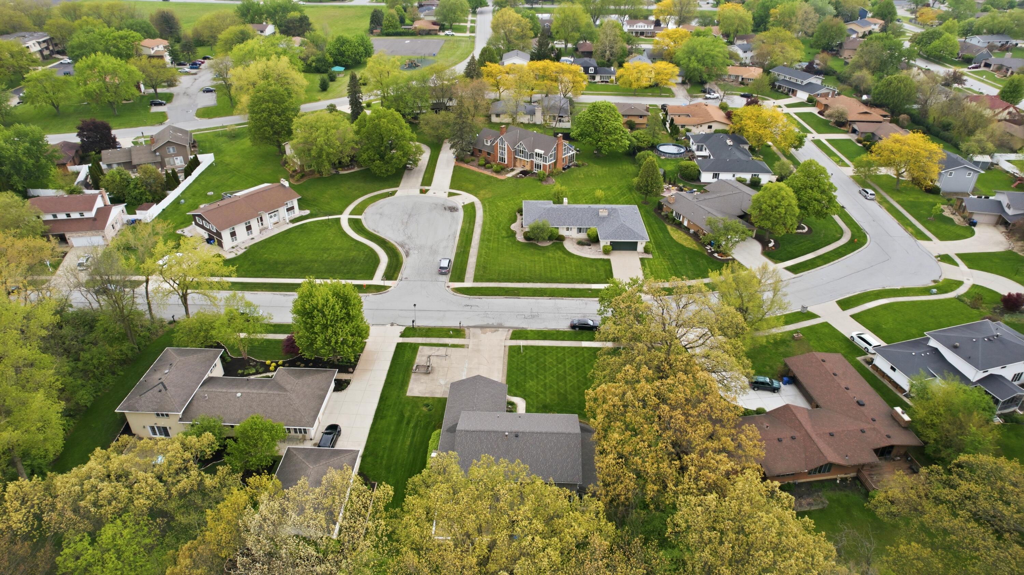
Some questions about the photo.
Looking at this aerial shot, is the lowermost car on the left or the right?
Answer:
left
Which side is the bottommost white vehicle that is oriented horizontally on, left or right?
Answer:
right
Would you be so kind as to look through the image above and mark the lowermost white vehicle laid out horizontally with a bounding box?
[847,333,885,353]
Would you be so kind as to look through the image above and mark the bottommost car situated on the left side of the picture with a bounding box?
[315,423,344,448]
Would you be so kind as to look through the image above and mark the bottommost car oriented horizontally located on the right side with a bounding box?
[748,377,783,396]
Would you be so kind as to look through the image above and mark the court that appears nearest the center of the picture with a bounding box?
[406,346,468,397]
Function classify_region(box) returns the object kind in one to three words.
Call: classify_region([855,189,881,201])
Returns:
vehicle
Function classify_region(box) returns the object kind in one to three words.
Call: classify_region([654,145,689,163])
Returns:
swimming pool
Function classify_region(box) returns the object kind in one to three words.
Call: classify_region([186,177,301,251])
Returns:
house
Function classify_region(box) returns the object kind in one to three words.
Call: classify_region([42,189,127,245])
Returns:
house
